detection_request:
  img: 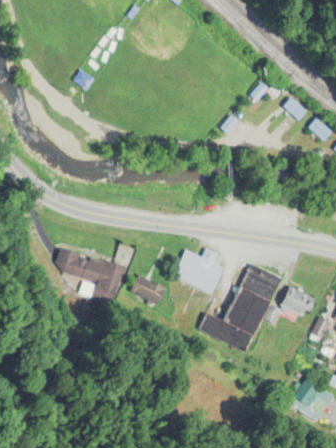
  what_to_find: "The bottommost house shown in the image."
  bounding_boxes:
[294,382,334,419]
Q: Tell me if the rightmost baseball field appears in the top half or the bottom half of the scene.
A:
top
